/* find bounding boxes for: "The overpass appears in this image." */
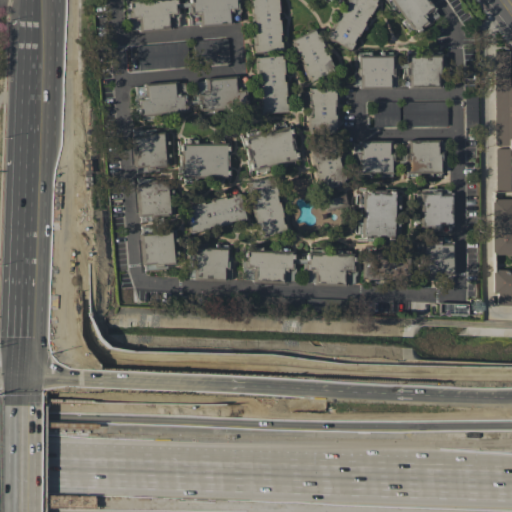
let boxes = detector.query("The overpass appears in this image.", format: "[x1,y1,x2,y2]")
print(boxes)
[0,391,48,512]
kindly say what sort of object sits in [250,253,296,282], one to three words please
building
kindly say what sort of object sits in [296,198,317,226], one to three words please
swimming pool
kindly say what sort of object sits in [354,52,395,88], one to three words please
building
